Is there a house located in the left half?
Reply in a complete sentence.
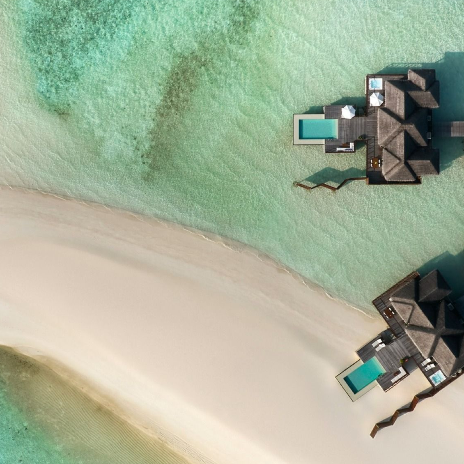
No, no house is visible in the left half.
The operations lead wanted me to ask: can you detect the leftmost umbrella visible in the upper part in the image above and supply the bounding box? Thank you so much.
[342,105,356,119]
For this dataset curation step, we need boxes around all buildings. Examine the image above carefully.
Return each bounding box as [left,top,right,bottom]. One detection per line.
[363,69,440,184]
[370,270,464,394]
